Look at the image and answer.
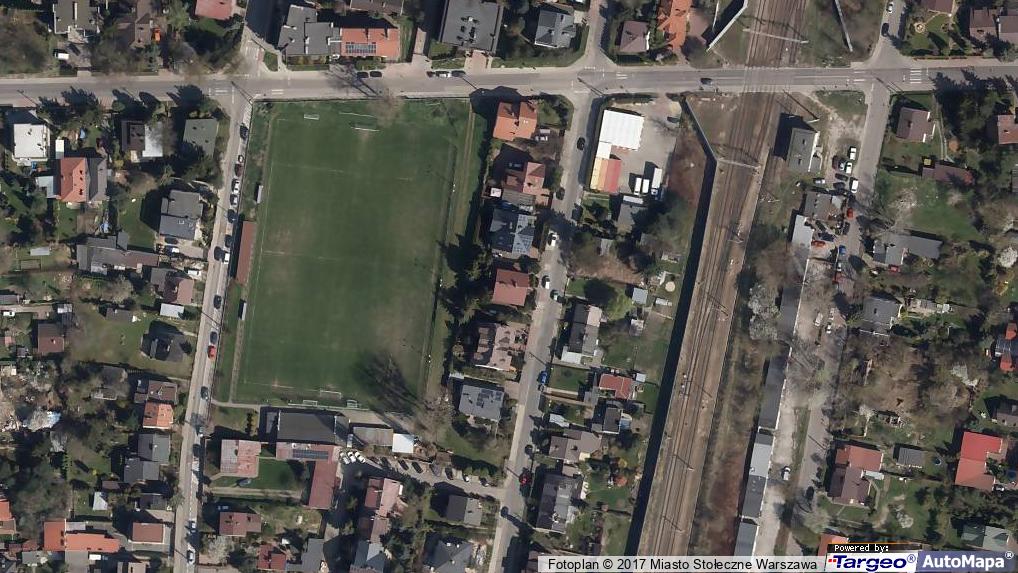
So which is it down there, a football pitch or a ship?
football pitch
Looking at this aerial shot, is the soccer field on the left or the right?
left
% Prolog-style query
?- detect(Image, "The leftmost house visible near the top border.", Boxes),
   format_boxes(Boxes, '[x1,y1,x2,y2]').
[55,0,99,37]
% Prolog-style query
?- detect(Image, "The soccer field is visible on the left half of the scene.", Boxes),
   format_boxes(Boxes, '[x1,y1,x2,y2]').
[239,113,448,407]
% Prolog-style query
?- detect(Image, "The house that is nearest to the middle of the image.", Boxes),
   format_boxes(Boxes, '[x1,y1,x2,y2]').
[492,269,529,306]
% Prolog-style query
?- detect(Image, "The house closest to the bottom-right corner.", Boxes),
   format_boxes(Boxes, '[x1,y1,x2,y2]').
[961,525,1011,549]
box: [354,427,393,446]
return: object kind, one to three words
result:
shed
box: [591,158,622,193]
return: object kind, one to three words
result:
building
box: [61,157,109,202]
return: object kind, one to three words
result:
house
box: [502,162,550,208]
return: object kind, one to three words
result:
house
